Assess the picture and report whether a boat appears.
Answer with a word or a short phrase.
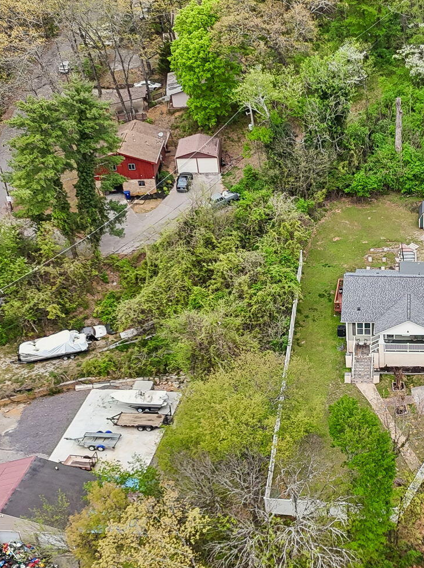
Yes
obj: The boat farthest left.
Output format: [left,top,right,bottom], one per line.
[16,329,95,362]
